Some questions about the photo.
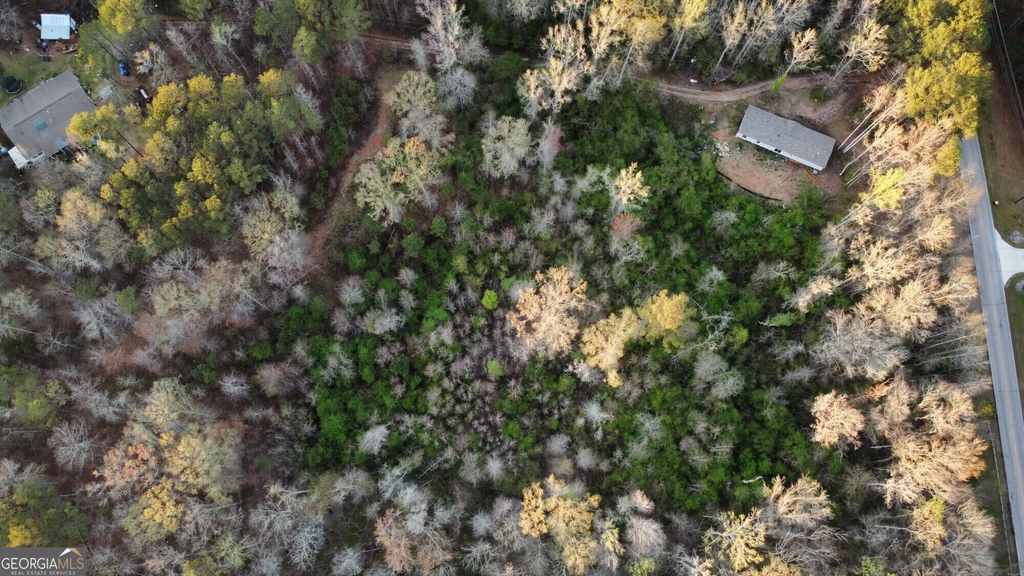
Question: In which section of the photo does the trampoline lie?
top left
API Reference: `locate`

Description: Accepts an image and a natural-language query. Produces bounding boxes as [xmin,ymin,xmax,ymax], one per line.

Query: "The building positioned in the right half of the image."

[736,104,835,170]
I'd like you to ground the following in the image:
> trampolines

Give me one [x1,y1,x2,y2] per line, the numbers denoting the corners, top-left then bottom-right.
[0,71,23,93]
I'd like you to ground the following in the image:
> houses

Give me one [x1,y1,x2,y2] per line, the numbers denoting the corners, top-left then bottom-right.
[736,104,835,170]
[0,68,106,172]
